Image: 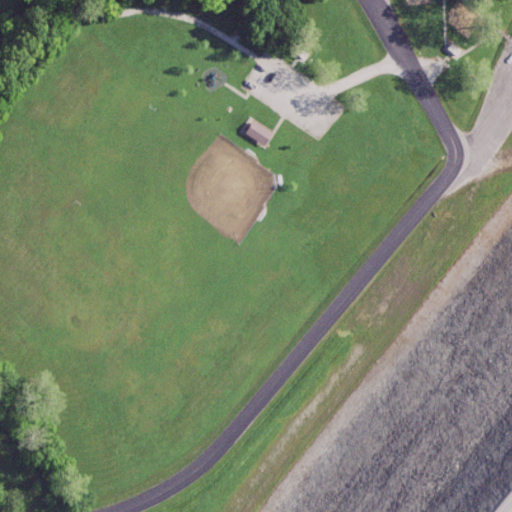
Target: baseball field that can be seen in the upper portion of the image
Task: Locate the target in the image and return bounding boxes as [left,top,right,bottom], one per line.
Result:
[186,132,277,243]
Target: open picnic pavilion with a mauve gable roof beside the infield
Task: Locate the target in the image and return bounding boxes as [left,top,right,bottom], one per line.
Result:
[243,118,274,146]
